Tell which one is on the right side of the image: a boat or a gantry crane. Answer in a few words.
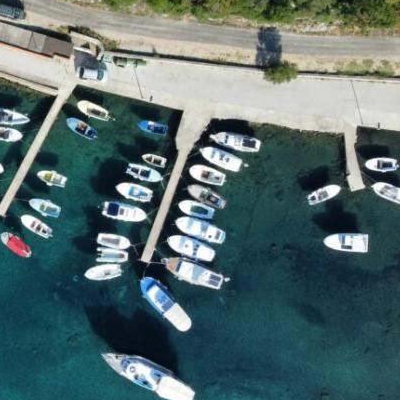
boat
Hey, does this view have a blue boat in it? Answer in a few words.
Yes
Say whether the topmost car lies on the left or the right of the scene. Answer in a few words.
left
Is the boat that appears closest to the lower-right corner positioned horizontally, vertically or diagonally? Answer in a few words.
horizontally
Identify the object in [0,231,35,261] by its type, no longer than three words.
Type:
boat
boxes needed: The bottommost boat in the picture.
[103,354,204,400]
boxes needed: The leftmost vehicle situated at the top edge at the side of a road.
[0,2,27,22]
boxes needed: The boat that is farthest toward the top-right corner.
[362,156,400,173]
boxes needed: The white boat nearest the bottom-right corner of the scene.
[323,232,370,252]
